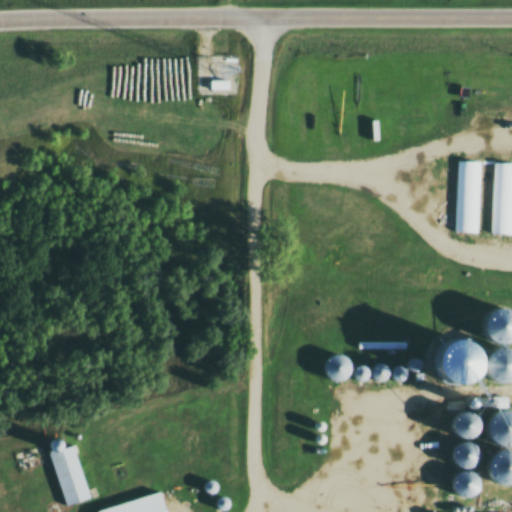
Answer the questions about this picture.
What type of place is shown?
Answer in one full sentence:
The area seen from above is an industrial area.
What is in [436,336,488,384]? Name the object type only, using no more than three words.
silo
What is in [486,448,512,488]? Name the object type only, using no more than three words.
silo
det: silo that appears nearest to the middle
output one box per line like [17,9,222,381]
[323,354,354,382]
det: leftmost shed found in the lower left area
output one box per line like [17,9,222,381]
[52,446,92,506]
